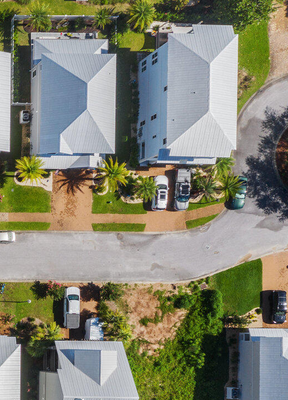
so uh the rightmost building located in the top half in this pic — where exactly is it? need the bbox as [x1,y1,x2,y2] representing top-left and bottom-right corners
[129,24,239,167]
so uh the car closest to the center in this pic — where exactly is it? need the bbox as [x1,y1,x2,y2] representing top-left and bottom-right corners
[151,175,171,212]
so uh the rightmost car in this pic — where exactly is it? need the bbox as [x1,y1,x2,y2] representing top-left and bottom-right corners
[270,290,288,324]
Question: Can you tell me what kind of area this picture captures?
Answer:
residential area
